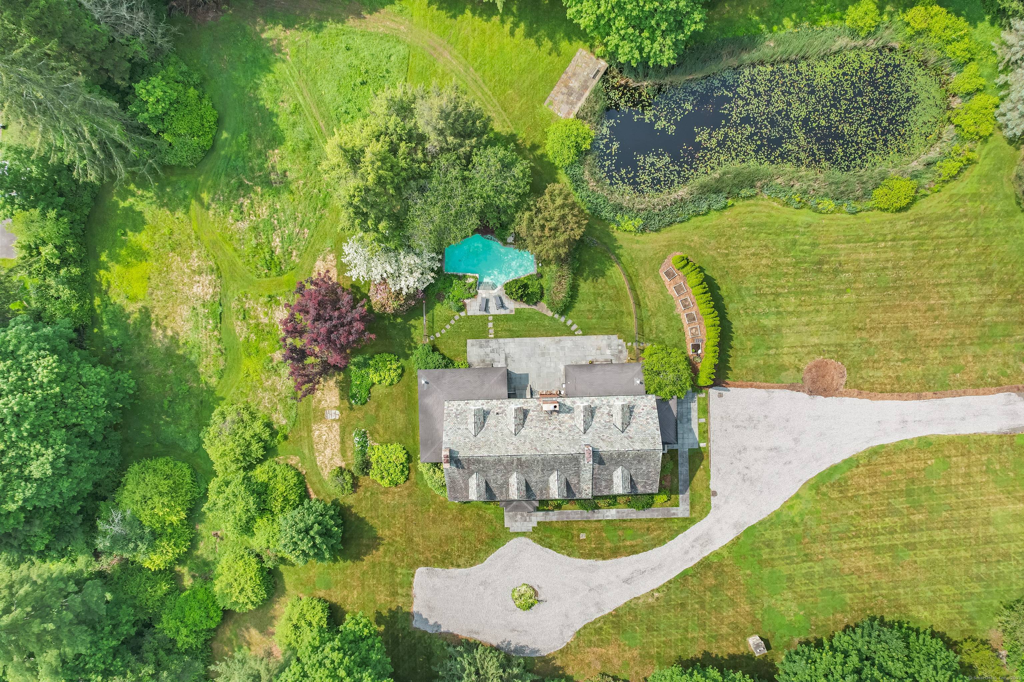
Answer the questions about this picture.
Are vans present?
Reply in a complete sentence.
No, the picture doesn't show any van.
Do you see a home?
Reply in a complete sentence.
Yes, a home can be made out from above.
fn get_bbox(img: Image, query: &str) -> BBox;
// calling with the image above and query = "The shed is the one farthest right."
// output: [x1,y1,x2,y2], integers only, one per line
[745,632,768,657]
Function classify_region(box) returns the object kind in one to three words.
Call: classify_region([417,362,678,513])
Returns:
house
